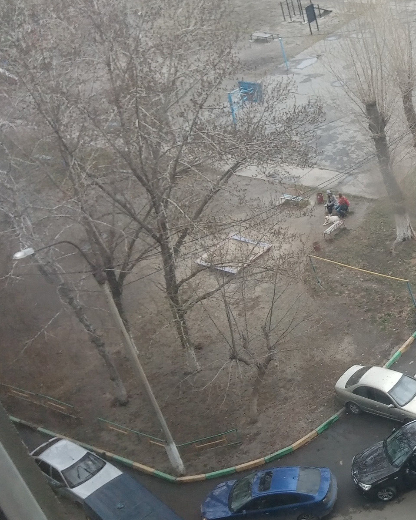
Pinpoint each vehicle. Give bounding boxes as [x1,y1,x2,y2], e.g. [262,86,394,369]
[24,436,131,518]
[350,417,416,500]
[196,464,341,520]
[327,362,416,421]
[86,478,181,520]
